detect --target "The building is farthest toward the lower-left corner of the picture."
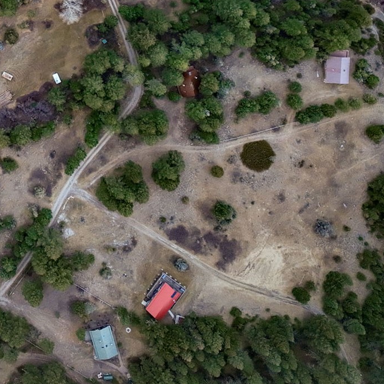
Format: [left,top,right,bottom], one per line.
[86,320,118,359]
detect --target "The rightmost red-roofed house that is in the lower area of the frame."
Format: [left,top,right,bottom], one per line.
[142,270,186,317]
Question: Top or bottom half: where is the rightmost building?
top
